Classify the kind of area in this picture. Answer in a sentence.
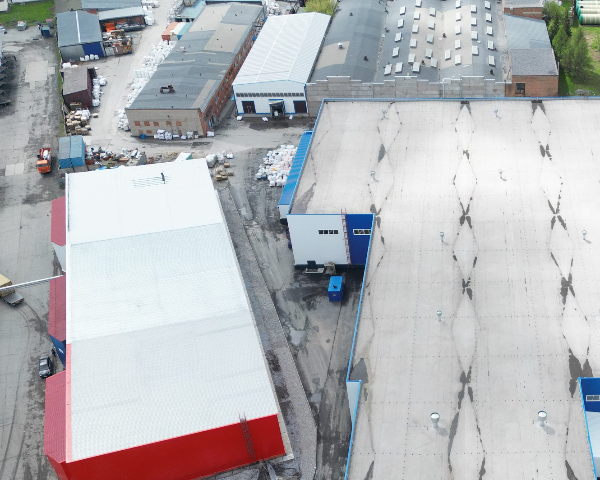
The picture captures an industrial area.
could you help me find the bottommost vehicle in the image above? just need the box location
[34,358,54,376]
